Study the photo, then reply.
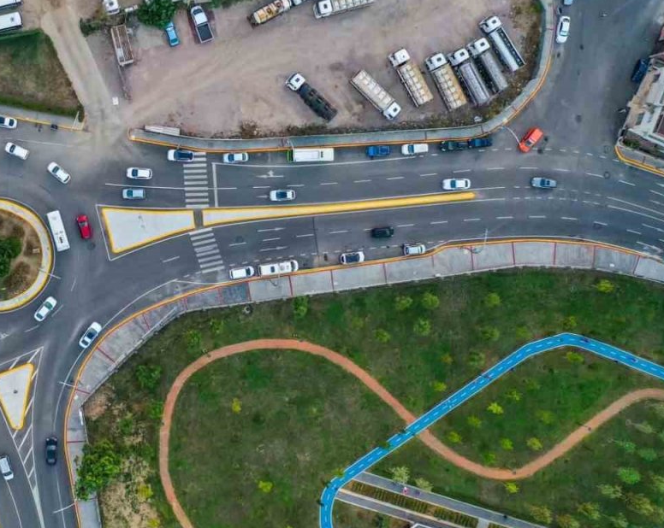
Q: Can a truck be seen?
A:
Yes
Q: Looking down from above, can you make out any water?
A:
No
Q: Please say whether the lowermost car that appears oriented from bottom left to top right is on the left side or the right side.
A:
left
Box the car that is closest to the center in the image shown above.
[338,250,365,264]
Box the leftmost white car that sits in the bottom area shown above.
[0,453,16,482]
